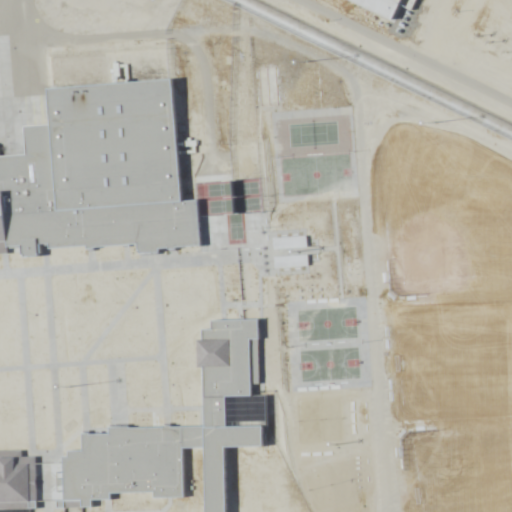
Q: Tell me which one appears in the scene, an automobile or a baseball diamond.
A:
baseball diamond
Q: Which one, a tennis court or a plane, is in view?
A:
tennis court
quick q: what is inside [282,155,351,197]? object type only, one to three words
basketball court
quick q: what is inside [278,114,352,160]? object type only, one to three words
tennis court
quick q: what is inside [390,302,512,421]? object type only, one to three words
sports field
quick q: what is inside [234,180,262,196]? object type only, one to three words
sports court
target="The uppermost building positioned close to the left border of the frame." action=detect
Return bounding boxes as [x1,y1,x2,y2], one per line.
[0,80,202,256]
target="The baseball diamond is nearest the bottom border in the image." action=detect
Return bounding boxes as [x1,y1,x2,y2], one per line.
[404,419,512,512]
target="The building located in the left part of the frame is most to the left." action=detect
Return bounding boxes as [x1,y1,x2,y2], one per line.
[0,450,38,508]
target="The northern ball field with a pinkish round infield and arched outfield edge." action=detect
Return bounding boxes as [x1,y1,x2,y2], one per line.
[370,125,512,306]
